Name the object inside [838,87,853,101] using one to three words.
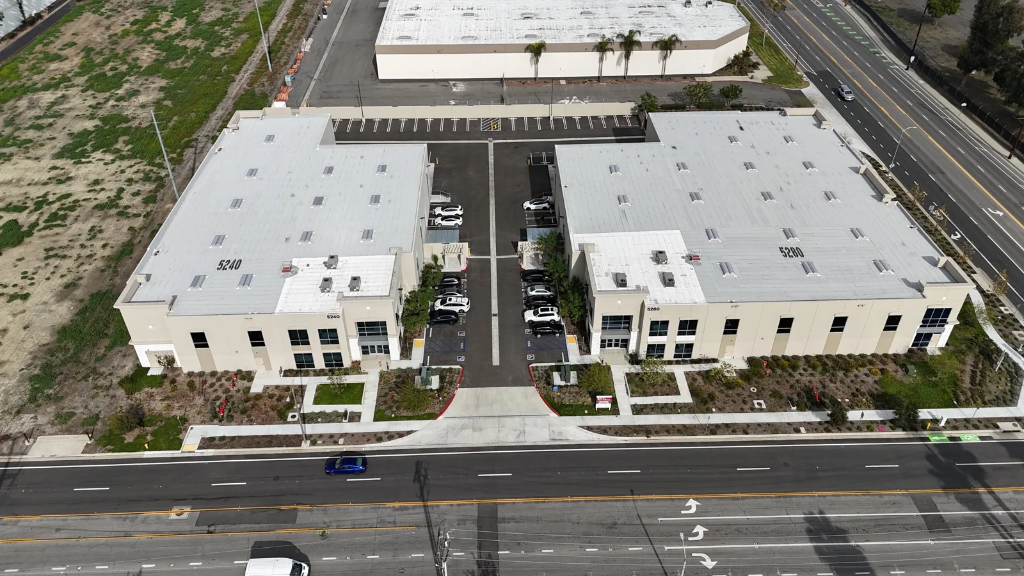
car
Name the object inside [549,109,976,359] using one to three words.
building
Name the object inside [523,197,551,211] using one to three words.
car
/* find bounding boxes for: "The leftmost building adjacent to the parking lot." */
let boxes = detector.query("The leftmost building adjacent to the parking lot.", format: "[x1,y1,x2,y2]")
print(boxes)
[112,112,432,372]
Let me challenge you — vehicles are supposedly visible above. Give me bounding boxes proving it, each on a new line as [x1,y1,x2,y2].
[323,456,369,477]
[426,308,460,325]
[528,320,564,337]
[433,214,463,227]
[519,268,553,283]
[435,294,469,311]
[523,197,551,211]
[242,556,312,576]
[838,87,853,101]
[525,285,559,296]
[434,203,462,217]
[431,271,464,288]
[524,305,559,322]
[524,292,558,308]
